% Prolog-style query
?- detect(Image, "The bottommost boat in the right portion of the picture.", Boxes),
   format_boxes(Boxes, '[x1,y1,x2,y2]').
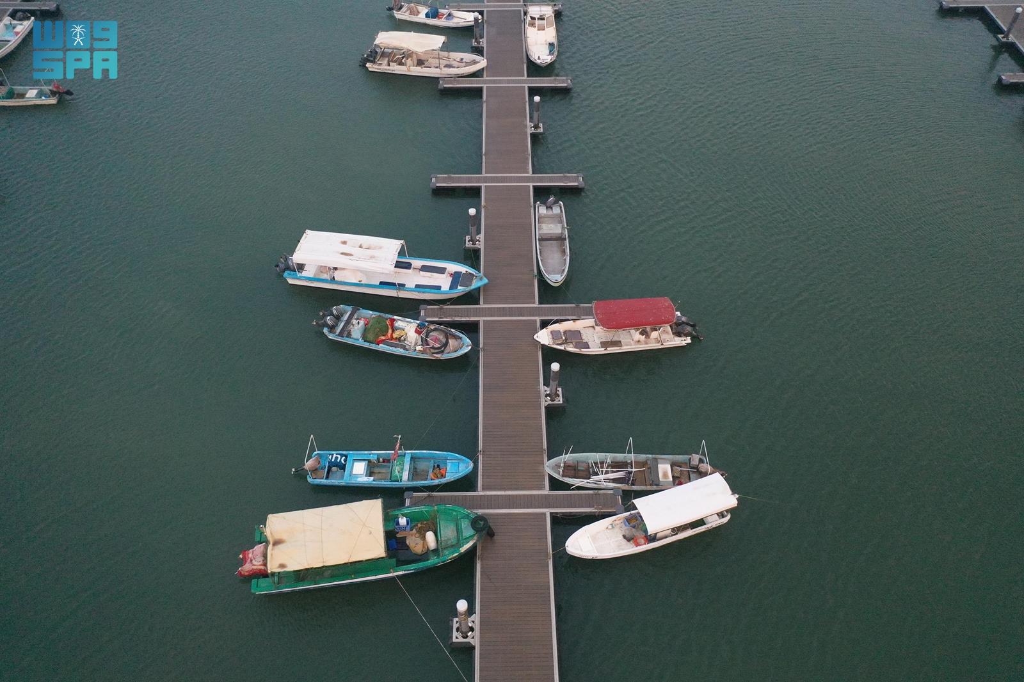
[564,475,743,557]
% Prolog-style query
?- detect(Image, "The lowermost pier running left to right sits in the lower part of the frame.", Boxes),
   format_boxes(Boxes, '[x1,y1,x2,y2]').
[403,489,624,516]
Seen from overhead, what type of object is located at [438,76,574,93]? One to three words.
pier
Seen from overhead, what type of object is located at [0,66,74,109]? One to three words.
boat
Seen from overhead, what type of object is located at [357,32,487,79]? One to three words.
boat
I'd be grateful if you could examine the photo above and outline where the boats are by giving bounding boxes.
[233,498,485,599]
[269,231,492,302]
[291,436,474,487]
[545,437,731,491]
[309,307,472,360]
[536,195,571,286]
[533,292,708,354]
[357,32,487,79]
[386,0,485,31]
[0,6,36,68]
[564,475,743,557]
[524,0,558,69]
[0,66,74,109]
